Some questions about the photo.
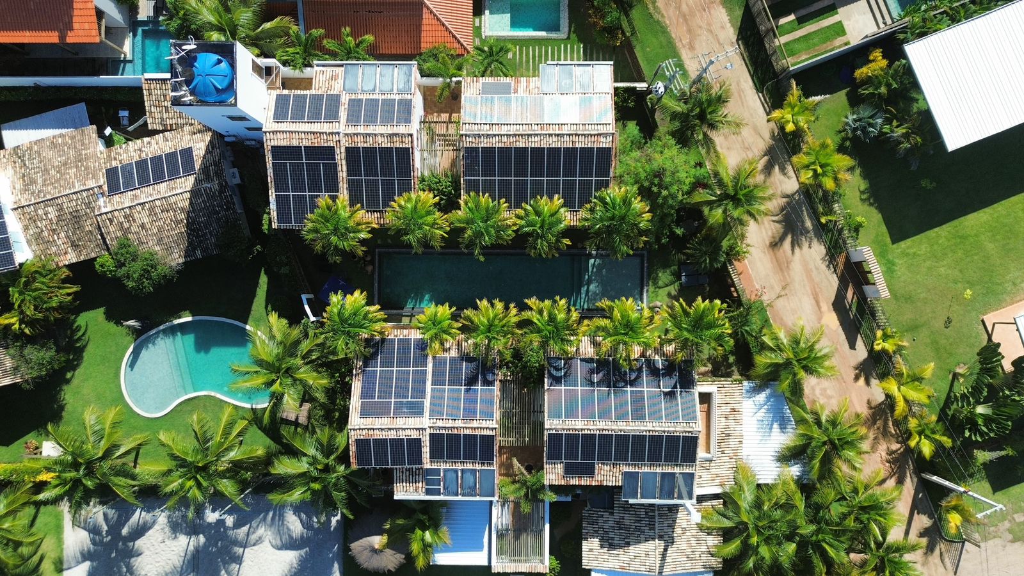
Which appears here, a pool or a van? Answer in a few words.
pool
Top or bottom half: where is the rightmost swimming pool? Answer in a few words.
top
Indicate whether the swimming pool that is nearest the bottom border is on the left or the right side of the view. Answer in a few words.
left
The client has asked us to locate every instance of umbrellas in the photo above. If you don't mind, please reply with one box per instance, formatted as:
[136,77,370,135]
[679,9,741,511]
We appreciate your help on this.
[350,523,406,576]
[318,276,357,304]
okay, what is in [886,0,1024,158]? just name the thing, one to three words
building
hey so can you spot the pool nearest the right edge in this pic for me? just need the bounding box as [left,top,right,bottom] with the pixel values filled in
[892,0,931,20]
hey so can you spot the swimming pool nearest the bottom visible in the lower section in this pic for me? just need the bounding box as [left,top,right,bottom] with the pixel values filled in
[122,318,283,415]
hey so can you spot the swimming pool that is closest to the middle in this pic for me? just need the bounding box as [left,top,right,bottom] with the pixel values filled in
[375,250,647,313]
